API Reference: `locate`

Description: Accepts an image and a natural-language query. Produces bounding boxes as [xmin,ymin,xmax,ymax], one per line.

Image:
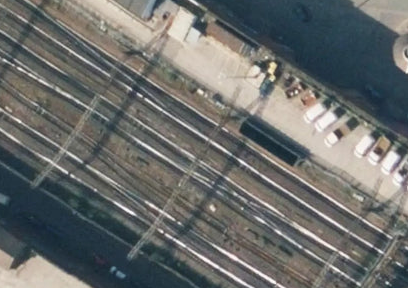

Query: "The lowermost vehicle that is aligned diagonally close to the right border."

[390,165,408,183]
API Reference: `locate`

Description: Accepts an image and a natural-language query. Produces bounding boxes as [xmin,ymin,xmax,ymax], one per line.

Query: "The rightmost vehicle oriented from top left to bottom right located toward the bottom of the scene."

[109,266,127,280]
